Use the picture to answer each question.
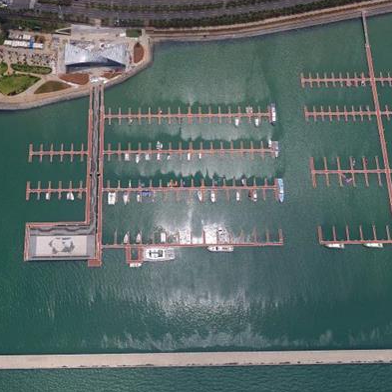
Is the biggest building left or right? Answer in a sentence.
The biggest building appears in the left half of the scene.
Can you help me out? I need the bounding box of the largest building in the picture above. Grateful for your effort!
[65,38,126,74]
